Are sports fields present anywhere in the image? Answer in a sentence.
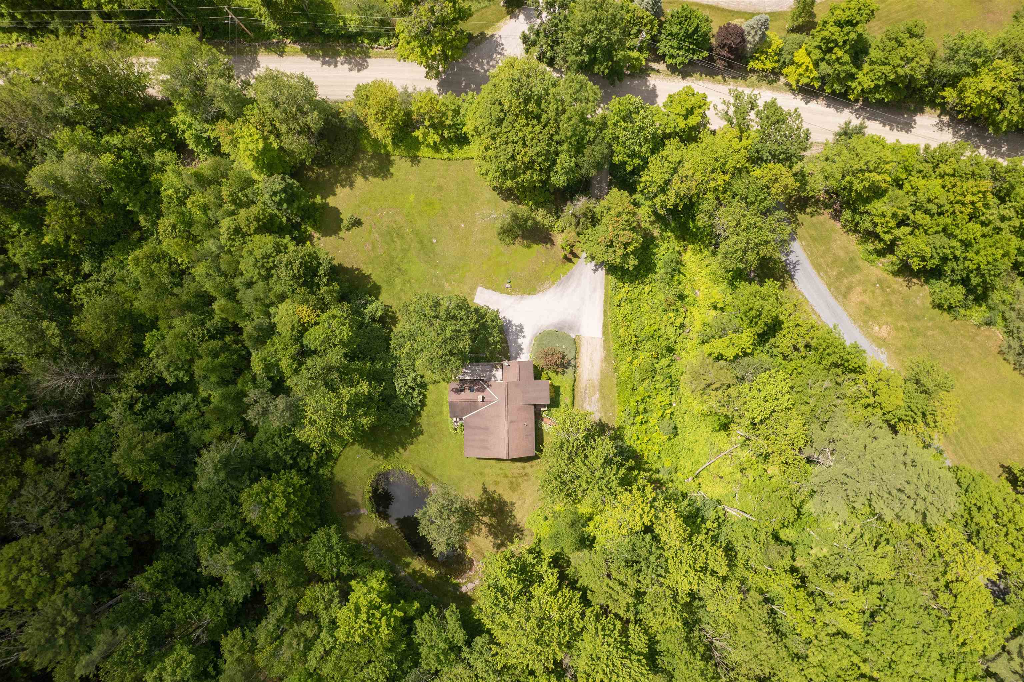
No, there isn't any sports field down there.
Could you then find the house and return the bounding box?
[449,360,558,459]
